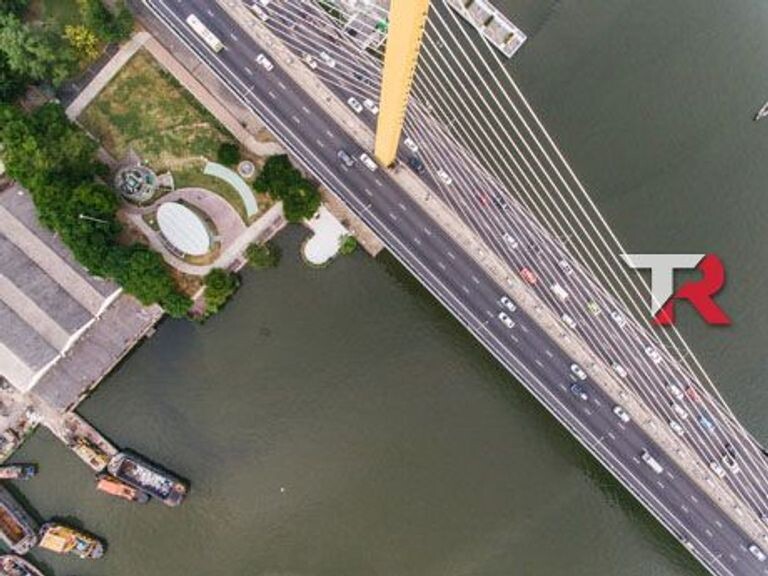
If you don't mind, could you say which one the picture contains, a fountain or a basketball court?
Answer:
fountain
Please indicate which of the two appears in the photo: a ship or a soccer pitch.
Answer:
ship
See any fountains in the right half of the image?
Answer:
No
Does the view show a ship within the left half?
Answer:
Yes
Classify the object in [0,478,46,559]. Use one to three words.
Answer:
ship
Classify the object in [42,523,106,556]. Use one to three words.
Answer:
boat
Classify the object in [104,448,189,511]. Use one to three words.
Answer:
ship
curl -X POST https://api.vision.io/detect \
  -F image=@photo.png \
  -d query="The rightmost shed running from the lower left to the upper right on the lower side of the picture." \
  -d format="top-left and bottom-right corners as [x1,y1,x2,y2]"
[32,290,164,414]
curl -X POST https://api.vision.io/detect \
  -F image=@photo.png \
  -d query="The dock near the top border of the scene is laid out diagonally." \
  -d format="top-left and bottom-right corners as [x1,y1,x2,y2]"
[445,0,527,58]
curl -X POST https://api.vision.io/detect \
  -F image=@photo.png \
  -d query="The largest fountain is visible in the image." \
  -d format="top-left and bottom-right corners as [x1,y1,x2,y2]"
[115,164,157,206]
